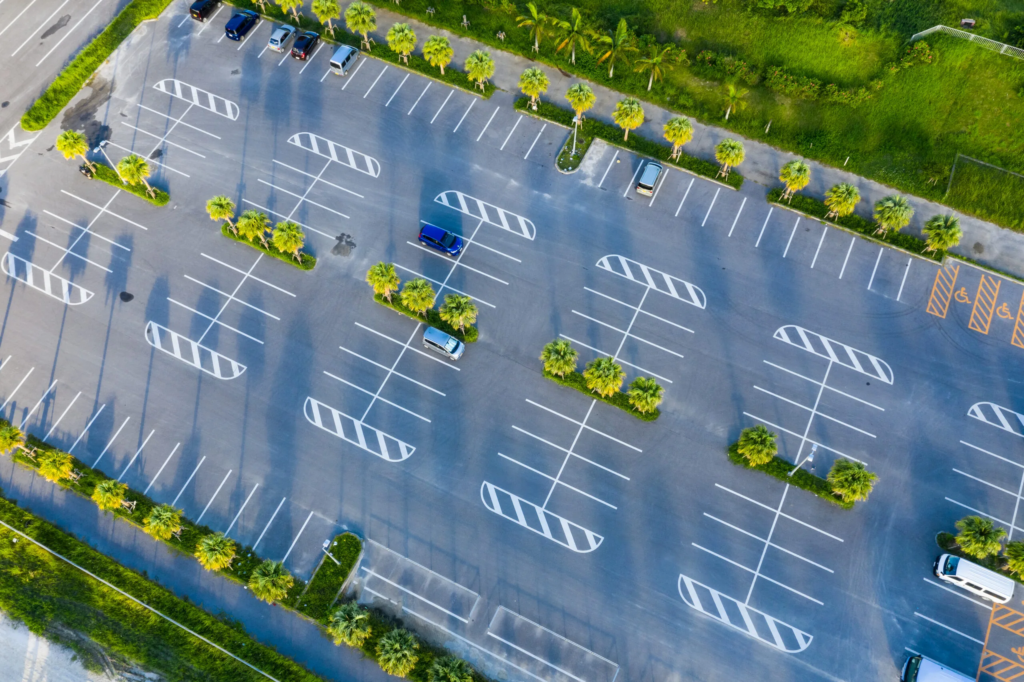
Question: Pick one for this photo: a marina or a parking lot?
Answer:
parking lot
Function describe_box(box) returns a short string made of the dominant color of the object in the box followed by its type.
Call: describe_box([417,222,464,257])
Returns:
blue car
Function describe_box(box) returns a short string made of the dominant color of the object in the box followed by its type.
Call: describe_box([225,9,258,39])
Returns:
blue car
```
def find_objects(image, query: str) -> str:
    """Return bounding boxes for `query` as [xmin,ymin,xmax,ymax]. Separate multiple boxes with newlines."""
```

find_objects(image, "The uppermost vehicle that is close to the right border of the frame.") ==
[930,551,1014,603]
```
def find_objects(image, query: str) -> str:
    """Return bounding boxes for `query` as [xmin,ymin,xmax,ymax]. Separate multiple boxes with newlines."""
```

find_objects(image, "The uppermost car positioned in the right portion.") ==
[637,162,665,196]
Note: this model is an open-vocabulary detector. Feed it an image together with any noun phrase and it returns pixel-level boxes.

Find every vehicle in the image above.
[898,656,969,682]
[329,43,359,74]
[267,23,296,50]
[637,162,665,196]
[225,9,258,39]
[73,162,89,178]
[417,222,464,257]
[187,0,219,22]
[930,551,1014,603]
[290,27,322,58]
